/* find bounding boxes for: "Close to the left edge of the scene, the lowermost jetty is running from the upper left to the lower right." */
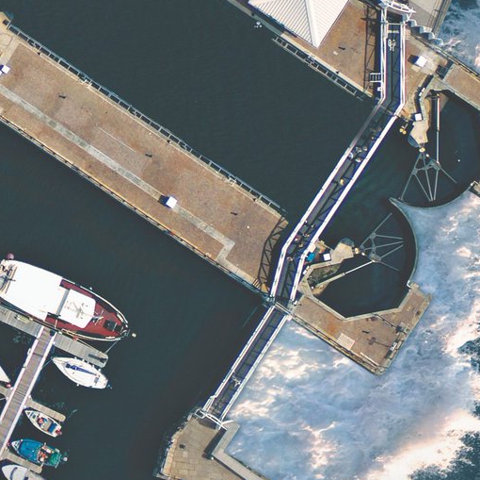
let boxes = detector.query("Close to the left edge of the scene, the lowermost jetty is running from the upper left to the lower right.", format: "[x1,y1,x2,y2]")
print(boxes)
[0,444,43,473]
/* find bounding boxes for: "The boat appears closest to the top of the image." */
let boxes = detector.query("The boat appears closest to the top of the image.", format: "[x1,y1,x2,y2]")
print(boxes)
[0,263,131,338]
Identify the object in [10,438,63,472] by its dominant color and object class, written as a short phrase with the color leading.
blue boat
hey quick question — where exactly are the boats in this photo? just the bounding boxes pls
[24,408,64,440]
[10,438,63,472]
[53,358,111,391]
[2,466,47,480]
[0,263,131,338]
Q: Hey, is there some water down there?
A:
Yes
